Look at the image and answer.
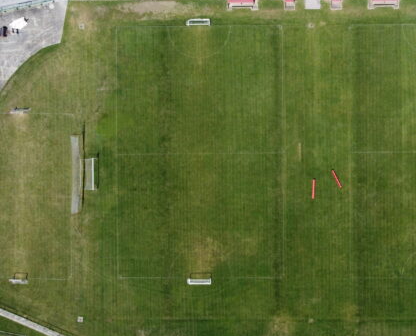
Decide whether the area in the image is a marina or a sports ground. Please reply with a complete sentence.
The picture captures a sports ground.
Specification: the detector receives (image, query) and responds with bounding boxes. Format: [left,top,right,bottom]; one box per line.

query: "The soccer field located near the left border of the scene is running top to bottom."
[0,114,71,280]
